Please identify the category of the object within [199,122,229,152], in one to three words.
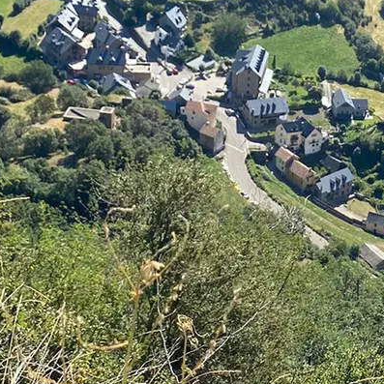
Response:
house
